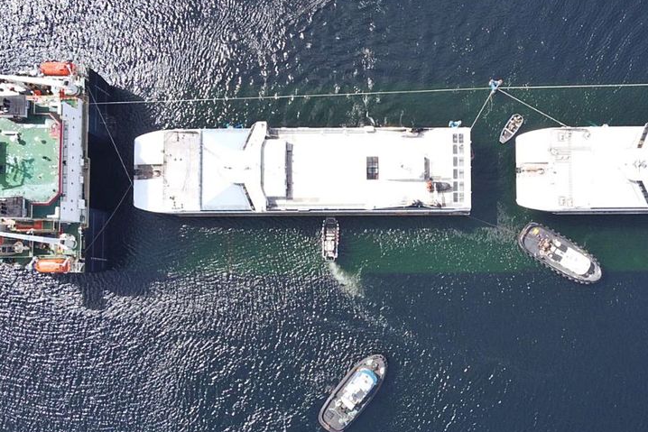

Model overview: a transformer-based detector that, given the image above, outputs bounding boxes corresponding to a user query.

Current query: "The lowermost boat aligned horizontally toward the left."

[35,258,74,274]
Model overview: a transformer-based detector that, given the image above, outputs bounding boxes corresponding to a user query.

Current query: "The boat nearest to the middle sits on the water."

[321,217,339,263]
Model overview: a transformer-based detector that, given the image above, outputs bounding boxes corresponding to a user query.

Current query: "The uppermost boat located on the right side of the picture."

[503,113,522,143]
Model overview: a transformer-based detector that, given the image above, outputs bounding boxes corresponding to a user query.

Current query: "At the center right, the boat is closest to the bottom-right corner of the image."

[516,221,602,283]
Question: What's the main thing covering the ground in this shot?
water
